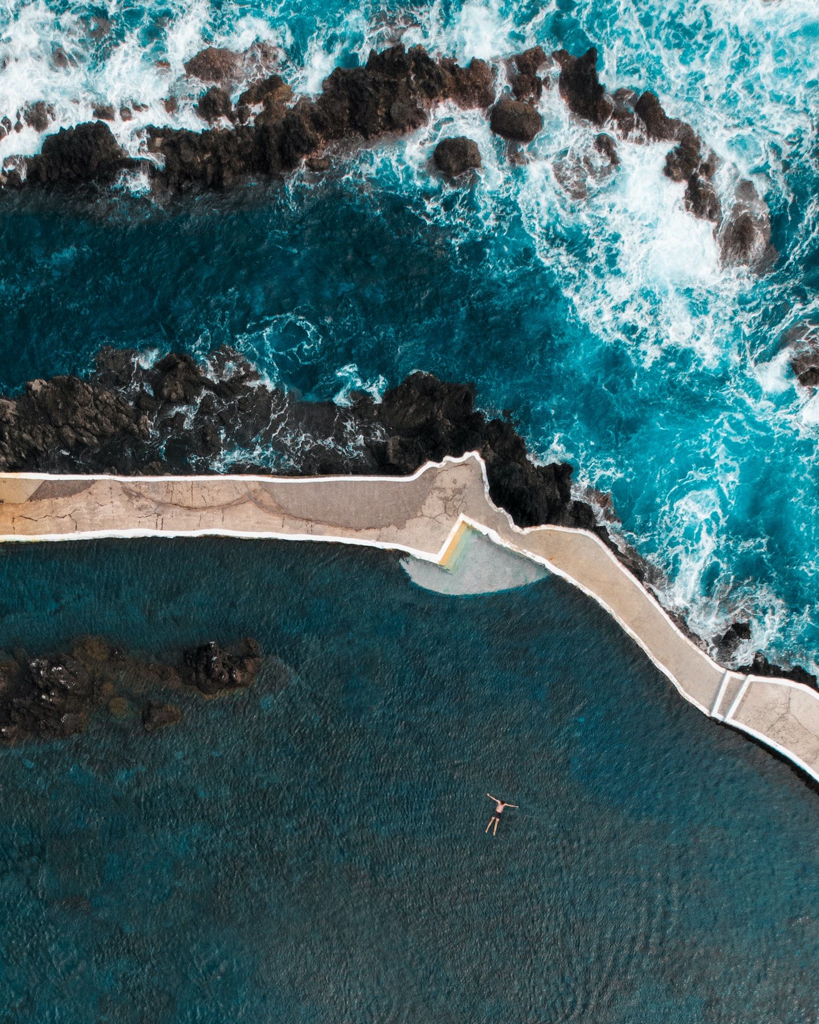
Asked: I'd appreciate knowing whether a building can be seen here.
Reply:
No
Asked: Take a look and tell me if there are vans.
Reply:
No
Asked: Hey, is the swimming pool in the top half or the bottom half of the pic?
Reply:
bottom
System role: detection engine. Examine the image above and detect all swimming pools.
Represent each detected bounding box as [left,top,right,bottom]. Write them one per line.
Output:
[0,535,819,1024]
